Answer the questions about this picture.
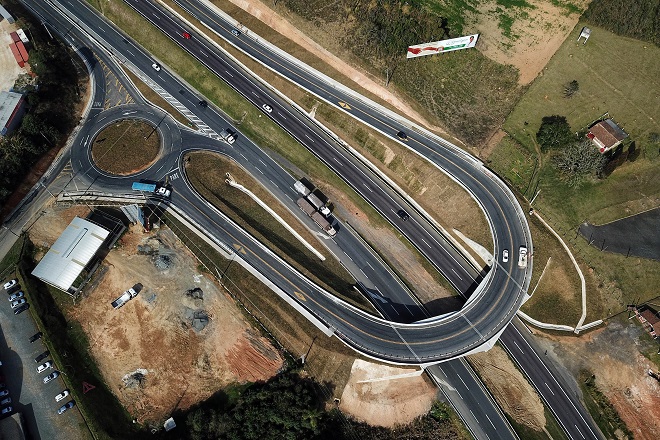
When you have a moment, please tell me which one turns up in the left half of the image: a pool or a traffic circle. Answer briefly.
traffic circle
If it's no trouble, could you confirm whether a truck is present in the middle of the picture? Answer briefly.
Yes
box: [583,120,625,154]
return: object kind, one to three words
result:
house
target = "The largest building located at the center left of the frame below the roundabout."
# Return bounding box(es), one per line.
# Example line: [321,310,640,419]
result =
[32,216,114,295]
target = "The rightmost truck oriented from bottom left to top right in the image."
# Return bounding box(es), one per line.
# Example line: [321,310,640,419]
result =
[113,287,138,309]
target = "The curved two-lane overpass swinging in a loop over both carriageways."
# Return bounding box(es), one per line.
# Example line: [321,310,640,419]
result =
[171,0,550,384]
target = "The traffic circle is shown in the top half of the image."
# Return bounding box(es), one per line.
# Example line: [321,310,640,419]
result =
[72,103,180,193]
